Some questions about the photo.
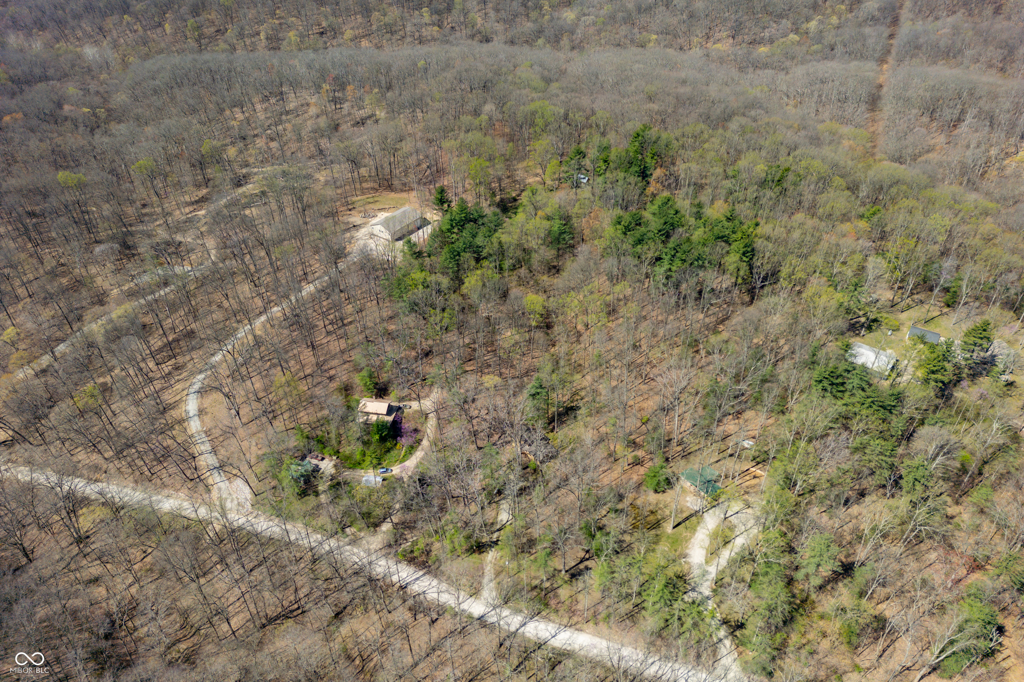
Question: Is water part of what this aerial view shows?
No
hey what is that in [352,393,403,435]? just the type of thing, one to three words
house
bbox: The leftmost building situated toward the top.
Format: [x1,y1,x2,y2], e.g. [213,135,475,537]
[369,207,422,243]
